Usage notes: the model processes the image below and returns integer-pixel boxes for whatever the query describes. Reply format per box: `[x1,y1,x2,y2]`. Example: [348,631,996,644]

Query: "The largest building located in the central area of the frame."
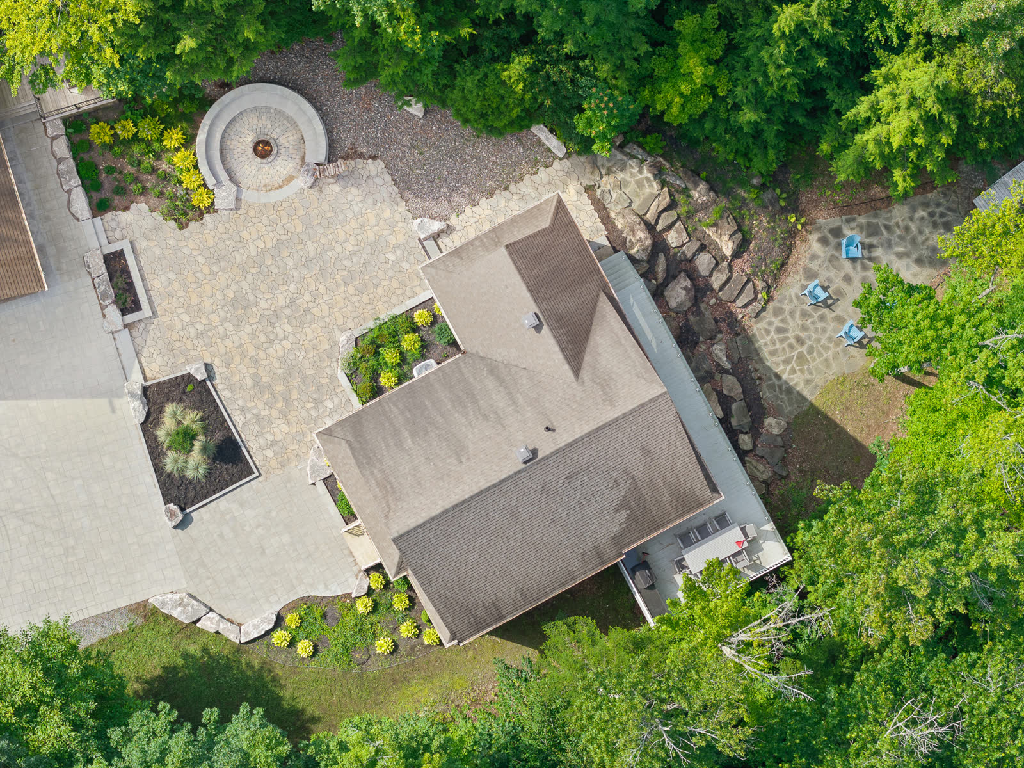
[315,191,724,650]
